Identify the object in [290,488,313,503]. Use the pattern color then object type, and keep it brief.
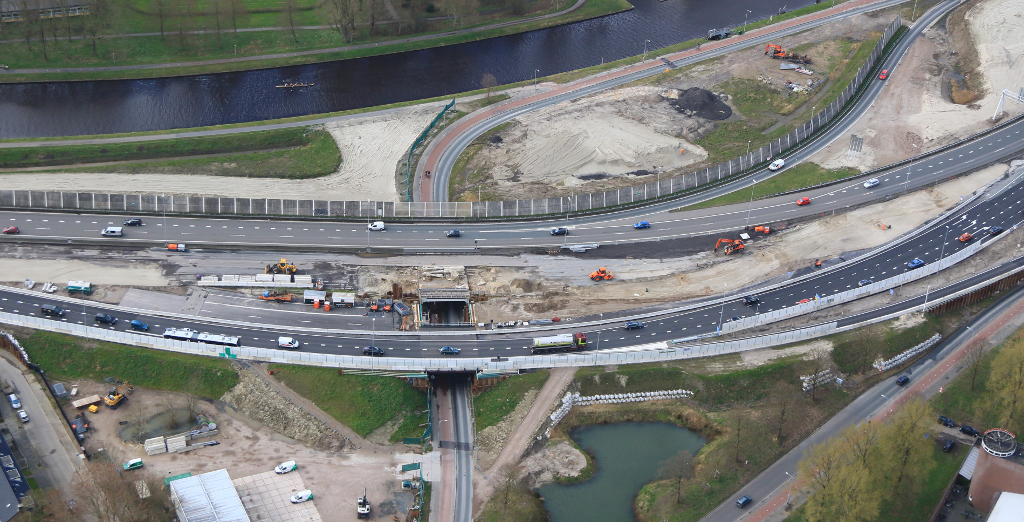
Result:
white vehicle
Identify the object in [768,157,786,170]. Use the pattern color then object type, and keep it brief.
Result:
white vehicle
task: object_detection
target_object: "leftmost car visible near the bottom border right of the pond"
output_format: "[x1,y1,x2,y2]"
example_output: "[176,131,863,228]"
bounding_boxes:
[736,496,751,508]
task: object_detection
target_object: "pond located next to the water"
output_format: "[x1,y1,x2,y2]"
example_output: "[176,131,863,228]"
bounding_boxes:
[537,421,707,522]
